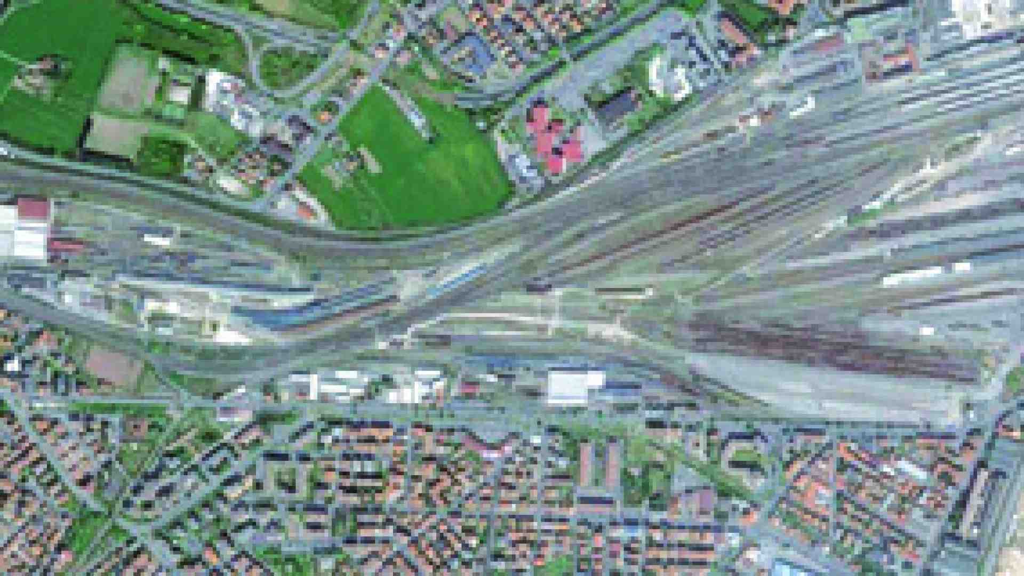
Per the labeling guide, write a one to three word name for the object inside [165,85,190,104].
building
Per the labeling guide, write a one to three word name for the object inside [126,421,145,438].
house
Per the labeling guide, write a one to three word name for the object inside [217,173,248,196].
barn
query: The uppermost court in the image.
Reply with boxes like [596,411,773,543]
[849,17,872,41]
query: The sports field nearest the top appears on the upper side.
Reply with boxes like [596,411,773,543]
[97,51,149,111]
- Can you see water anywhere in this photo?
No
